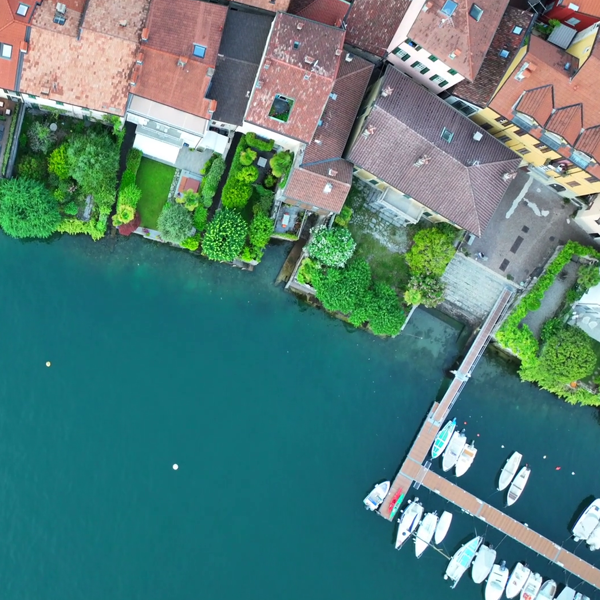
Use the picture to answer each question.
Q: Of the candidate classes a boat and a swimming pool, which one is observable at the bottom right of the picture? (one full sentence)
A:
The feature located at the bottom right of the picture is a boat.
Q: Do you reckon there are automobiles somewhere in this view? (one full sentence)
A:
No, no automobile is visible in the scene.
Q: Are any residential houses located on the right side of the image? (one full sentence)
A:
Yes, looking on the right side of the image, one can make out a residential house.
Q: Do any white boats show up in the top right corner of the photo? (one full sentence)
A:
No, there's no white boat to be seen in the top right corner of the photo.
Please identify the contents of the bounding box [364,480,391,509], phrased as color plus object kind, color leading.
white boat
